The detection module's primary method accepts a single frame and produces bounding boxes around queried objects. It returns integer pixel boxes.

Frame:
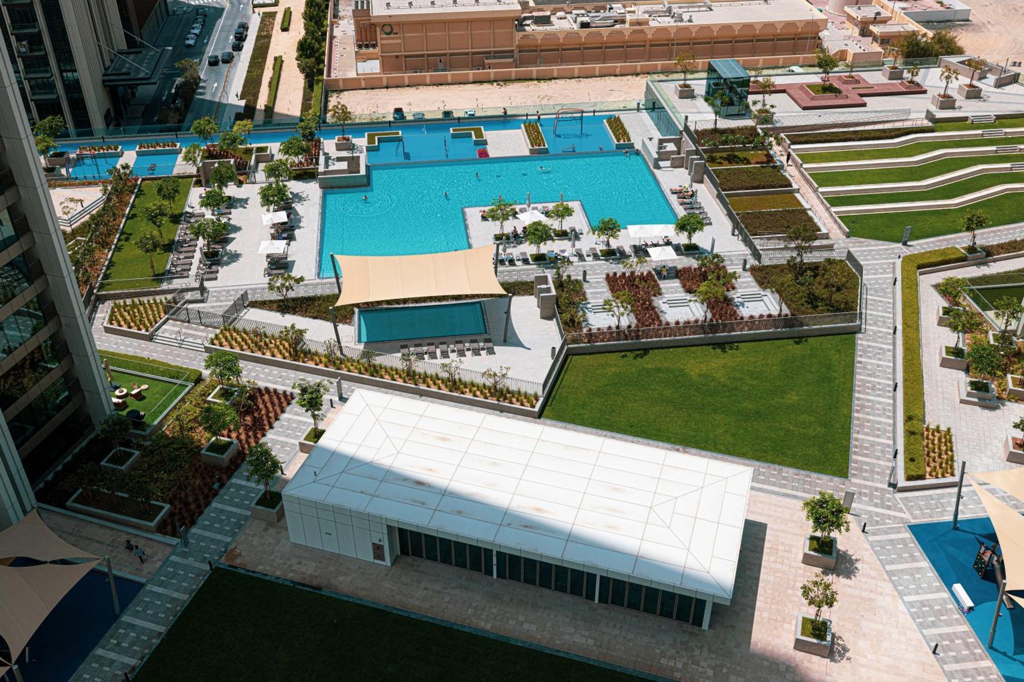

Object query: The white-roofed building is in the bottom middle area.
[282,389,753,632]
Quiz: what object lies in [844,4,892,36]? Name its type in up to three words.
shed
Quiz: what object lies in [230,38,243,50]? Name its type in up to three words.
vehicle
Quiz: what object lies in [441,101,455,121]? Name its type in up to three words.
car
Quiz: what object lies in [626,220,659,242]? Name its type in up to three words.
umbrella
